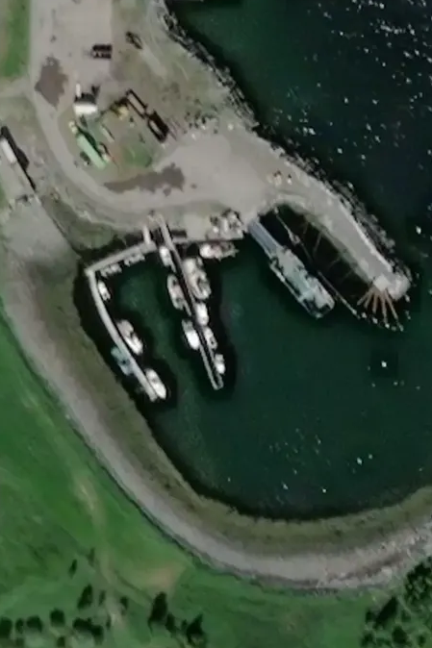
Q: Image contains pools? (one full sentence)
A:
No, no pool is visible in the view.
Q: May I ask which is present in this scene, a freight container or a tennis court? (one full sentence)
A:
It is a freight container that can be seen here.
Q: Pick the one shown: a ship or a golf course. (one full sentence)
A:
This aerial view contains a ship.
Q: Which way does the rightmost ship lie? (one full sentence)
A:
The rightmost ship is laid out diagonally.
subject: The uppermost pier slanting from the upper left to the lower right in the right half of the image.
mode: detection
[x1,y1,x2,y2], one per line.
[156,0,418,301]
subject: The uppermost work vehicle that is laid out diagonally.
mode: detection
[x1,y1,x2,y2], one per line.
[112,100,130,118]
